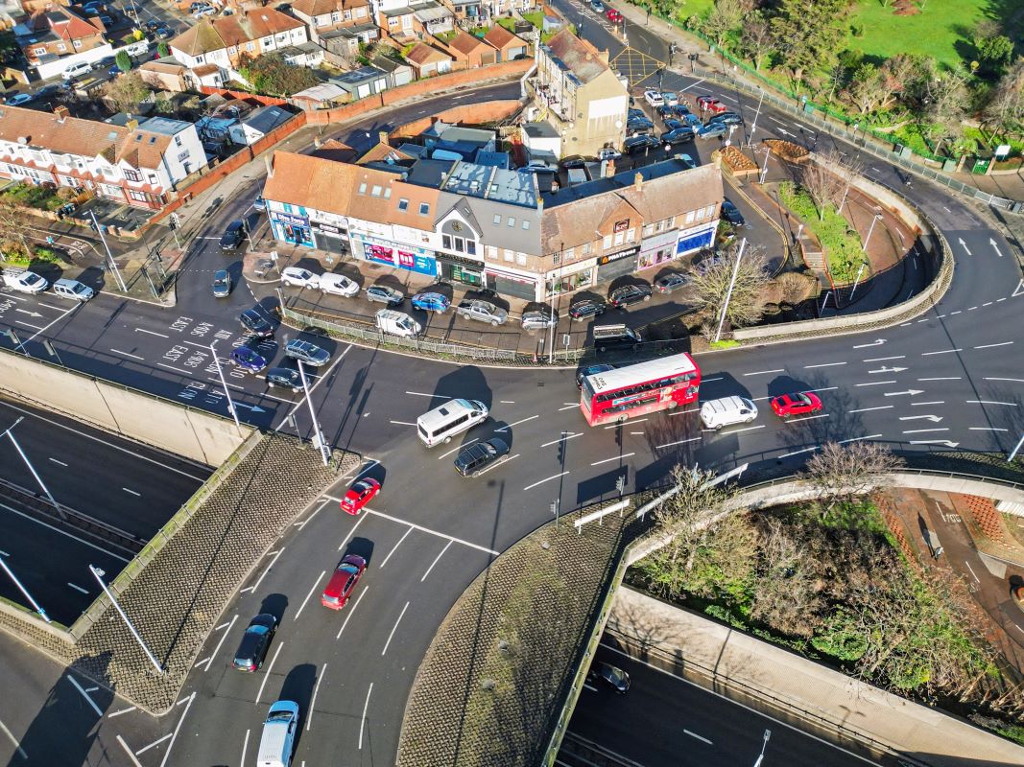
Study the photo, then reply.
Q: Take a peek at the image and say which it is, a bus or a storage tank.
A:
bus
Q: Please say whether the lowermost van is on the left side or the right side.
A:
left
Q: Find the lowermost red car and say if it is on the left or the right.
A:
left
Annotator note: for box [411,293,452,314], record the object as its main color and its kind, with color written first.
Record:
blue car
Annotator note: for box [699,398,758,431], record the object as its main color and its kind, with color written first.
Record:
white van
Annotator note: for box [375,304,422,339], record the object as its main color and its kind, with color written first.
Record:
white van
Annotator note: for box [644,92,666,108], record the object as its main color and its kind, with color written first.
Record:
white car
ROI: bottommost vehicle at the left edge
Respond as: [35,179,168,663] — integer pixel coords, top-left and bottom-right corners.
[2,266,44,294]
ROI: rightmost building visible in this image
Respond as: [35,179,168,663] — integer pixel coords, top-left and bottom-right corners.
[647,151,730,258]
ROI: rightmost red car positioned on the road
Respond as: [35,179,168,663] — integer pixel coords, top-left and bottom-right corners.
[769,391,820,419]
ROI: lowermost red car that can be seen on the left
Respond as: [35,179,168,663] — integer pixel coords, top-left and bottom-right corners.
[319,556,368,613]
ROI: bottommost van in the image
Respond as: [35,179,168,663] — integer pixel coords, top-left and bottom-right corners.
[255,702,301,767]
